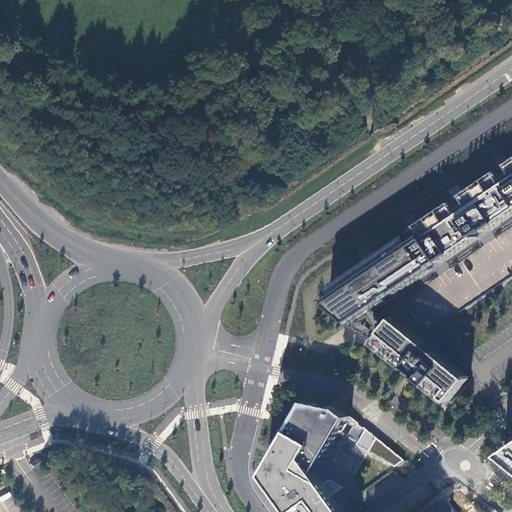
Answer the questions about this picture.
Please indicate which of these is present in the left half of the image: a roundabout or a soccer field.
roundabout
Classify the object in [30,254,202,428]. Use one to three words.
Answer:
roundabout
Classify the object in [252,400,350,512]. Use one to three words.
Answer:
building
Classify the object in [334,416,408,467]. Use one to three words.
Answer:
building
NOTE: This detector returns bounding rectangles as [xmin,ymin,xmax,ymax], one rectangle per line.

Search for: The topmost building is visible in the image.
[318,158,512,321]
